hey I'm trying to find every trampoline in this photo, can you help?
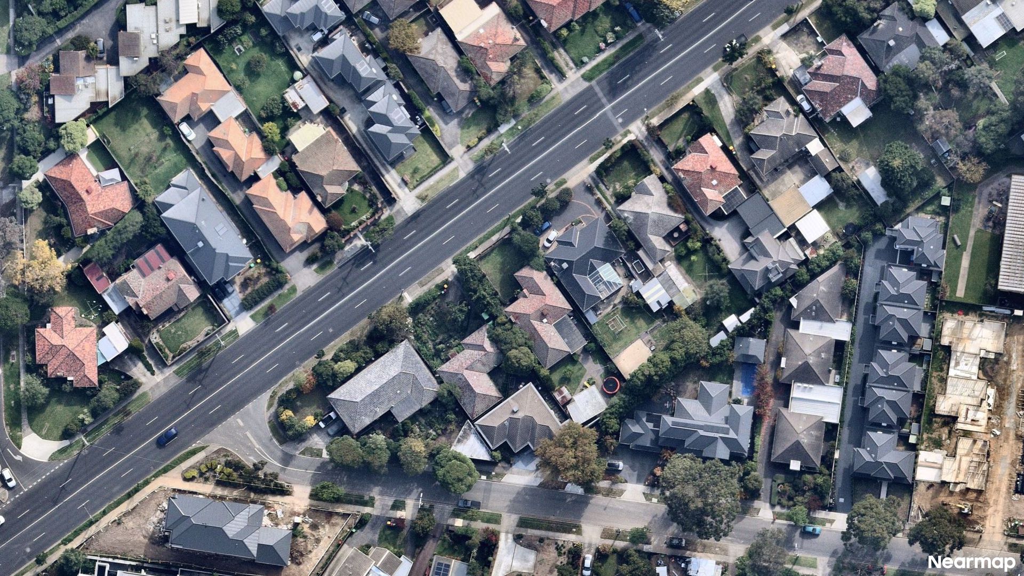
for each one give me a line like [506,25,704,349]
[843,221,858,236]
[602,377,619,394]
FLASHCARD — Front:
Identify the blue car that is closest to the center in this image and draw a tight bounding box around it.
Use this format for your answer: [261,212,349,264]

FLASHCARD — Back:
[534,220,553,235]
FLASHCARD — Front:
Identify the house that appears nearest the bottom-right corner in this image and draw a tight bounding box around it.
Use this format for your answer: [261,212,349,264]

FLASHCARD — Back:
[917,437,992,491]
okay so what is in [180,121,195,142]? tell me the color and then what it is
white car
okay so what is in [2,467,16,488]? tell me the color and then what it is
white car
